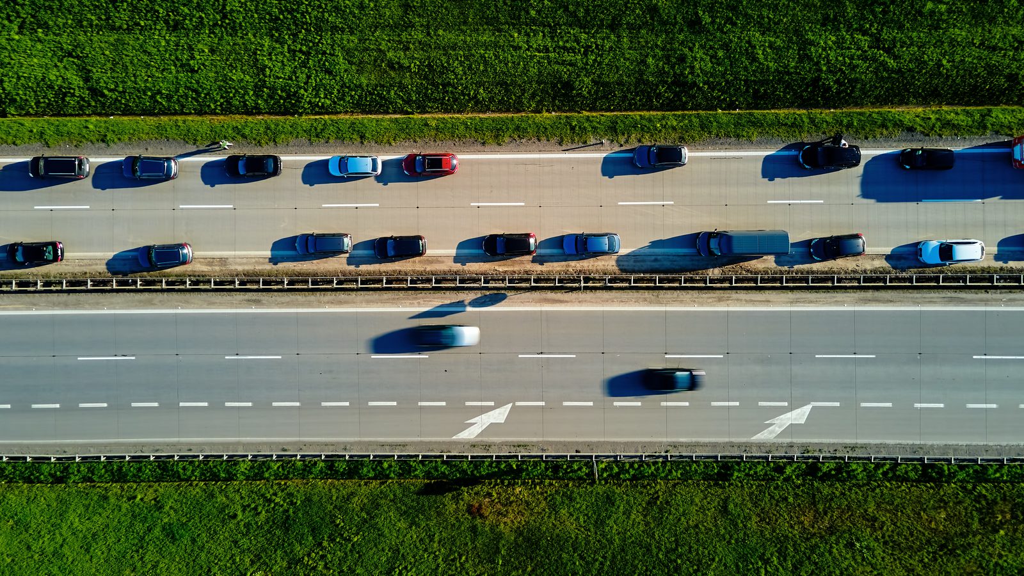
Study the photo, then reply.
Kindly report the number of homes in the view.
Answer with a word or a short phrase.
0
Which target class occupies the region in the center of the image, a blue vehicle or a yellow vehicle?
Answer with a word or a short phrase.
blue vehicle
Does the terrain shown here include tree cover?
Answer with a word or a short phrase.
No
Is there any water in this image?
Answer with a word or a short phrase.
No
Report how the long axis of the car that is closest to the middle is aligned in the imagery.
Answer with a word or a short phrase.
from left to right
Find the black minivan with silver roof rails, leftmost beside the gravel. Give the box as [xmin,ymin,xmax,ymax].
[27,153,92,181]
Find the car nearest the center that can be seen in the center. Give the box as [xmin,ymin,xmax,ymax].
[482,231,537,258]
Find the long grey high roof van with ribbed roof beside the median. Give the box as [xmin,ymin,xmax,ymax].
[693,227,790,260]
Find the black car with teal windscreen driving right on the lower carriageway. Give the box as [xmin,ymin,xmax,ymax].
[643,367,704,394]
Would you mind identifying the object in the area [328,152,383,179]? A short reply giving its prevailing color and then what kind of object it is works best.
blue car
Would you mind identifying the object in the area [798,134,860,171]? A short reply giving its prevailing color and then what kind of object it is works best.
black car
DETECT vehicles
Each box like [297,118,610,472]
[808,234,866,262]
[121,153,181,181]
[798,134,860,171]
[420,323,480,350]
[916,237,984,265]
[693,227,790,260]
[633,142,688,169]
[643,367,704,394]
[328,152,383,179]
[136,242,195,269]
[374,234,427,260]
[27,153,92,181]
[225,152,283,178]
[6,239,67,267]
[295,231,354,257]
[563,231,621,257]
[1008,132,1024,171]
[402,150,459,178]
[899,145,958,172]
[482,231,537,258]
